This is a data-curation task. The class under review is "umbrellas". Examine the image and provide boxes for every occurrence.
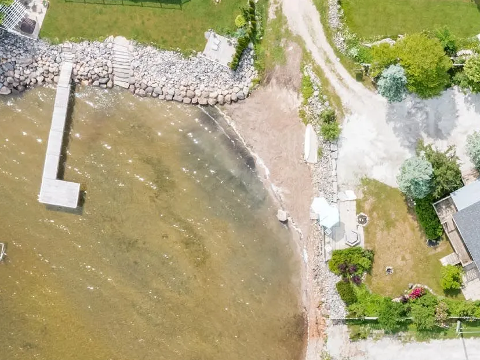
[318,208,340,230]
[310,198,333,218]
